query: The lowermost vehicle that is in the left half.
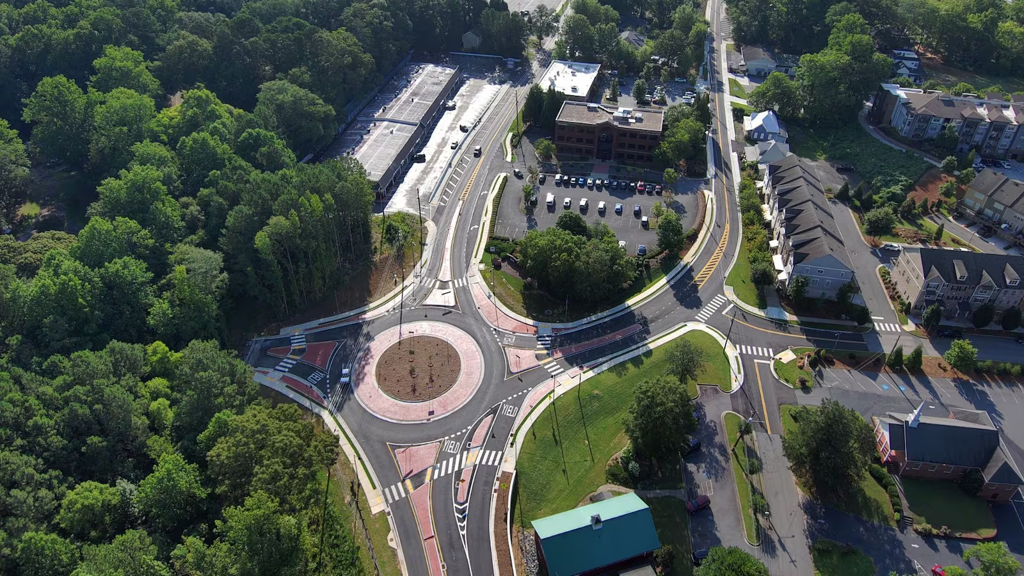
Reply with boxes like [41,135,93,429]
[339,365,352,383]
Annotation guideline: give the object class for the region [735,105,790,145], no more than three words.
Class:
house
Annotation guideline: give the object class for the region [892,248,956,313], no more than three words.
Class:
house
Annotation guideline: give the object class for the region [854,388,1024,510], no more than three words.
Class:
church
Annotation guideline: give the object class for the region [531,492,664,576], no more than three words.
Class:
barn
